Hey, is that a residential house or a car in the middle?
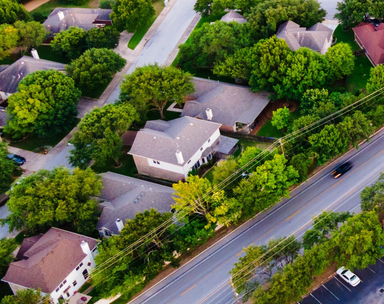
residential house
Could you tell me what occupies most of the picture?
trees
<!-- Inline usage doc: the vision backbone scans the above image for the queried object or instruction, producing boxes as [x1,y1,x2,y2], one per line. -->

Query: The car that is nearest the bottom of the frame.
[337,268,360,286]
